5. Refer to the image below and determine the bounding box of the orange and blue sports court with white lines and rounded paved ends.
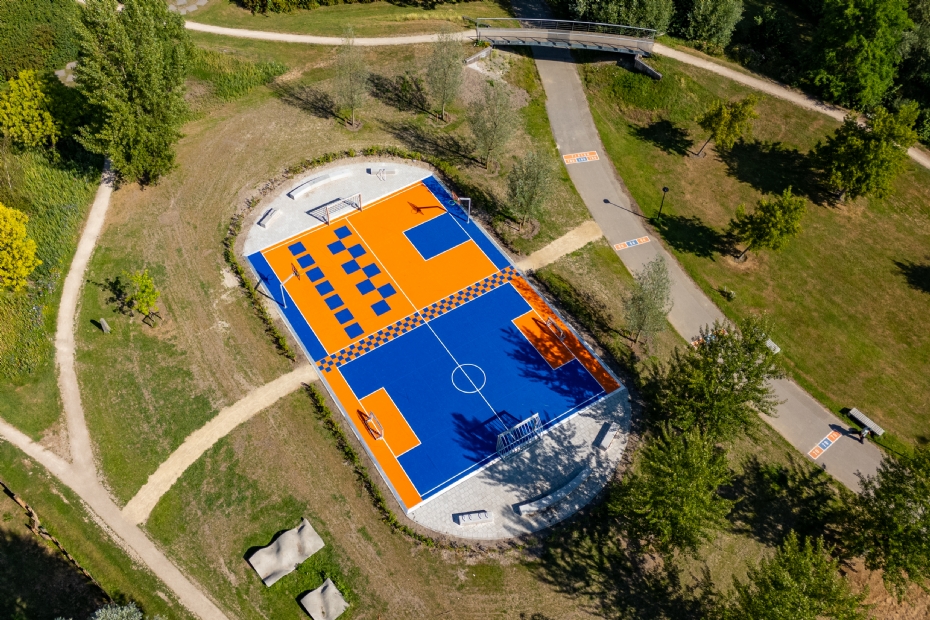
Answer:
[242,162,630,536]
